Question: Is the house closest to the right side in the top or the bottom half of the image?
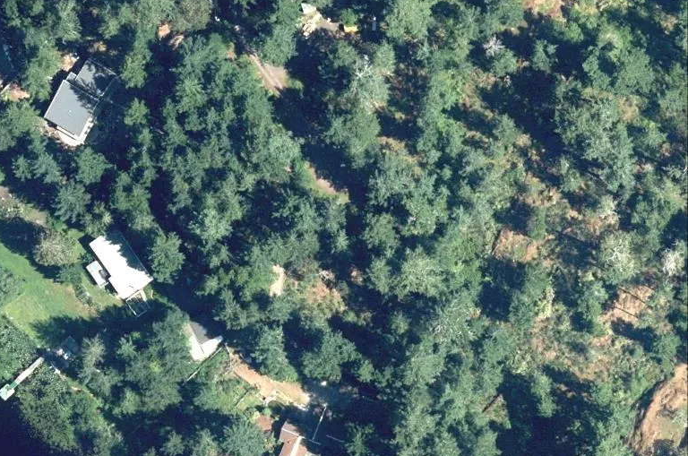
bottom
